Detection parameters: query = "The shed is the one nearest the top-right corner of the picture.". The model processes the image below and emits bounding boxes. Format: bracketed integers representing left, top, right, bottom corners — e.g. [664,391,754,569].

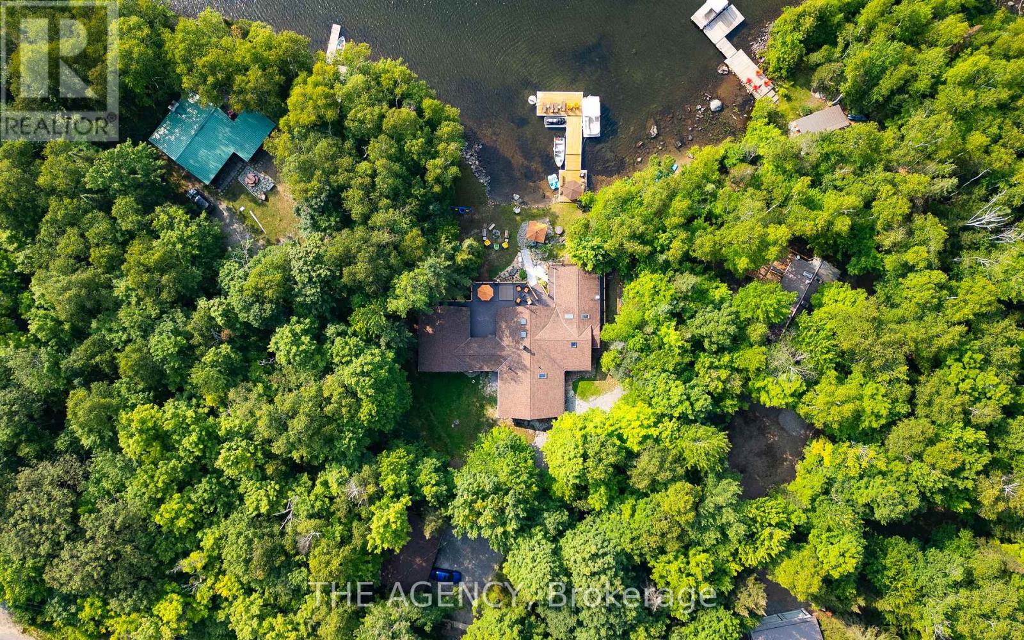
[796,101,847,138]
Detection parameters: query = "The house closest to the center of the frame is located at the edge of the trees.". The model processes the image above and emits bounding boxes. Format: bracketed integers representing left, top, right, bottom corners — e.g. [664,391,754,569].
[417,265,601,421]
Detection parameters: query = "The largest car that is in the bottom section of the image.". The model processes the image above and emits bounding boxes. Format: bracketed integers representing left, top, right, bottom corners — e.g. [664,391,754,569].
[430,568,460,585]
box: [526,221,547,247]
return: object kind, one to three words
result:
umbrella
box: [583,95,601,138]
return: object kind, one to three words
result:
boat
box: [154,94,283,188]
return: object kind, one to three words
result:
house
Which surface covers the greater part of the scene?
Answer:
trees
